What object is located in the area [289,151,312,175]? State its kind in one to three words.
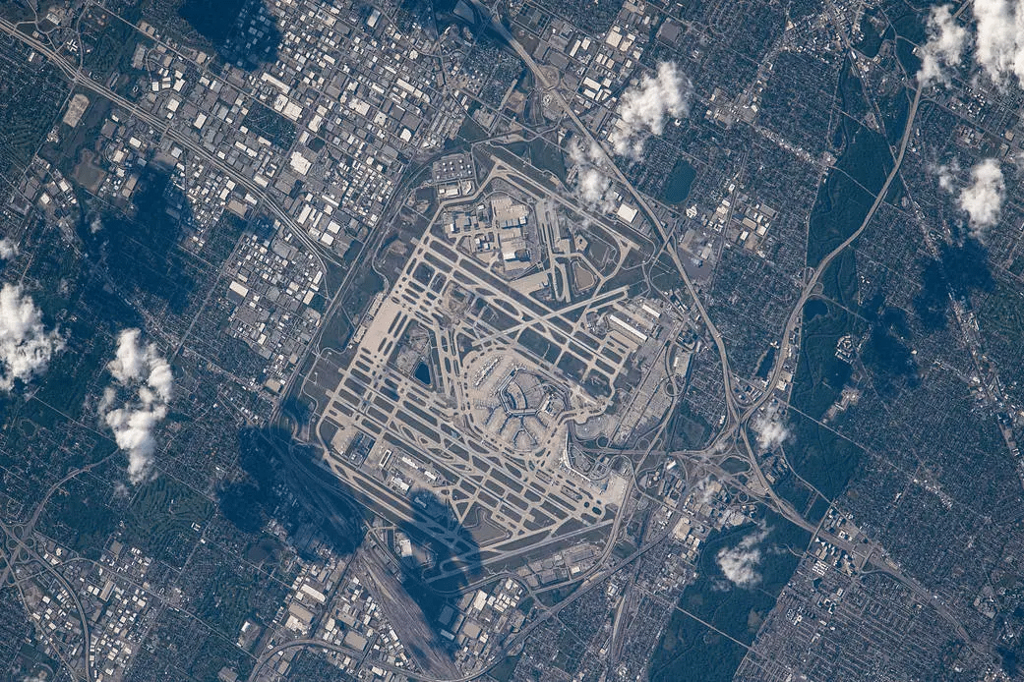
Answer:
building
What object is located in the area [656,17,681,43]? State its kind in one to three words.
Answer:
building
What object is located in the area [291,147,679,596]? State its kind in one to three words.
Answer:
airport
